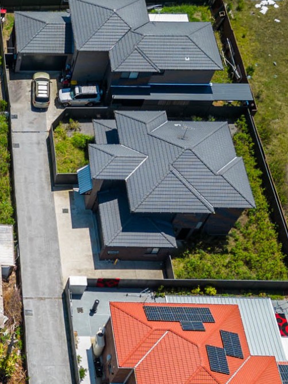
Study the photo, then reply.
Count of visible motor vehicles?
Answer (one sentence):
I count 2 motor vehicles.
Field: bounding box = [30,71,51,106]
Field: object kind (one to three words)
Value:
car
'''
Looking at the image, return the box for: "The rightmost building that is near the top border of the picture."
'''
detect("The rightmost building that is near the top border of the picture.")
[13,0,226,102]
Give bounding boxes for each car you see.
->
[30,71,51,106]
[59,82,106,107]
